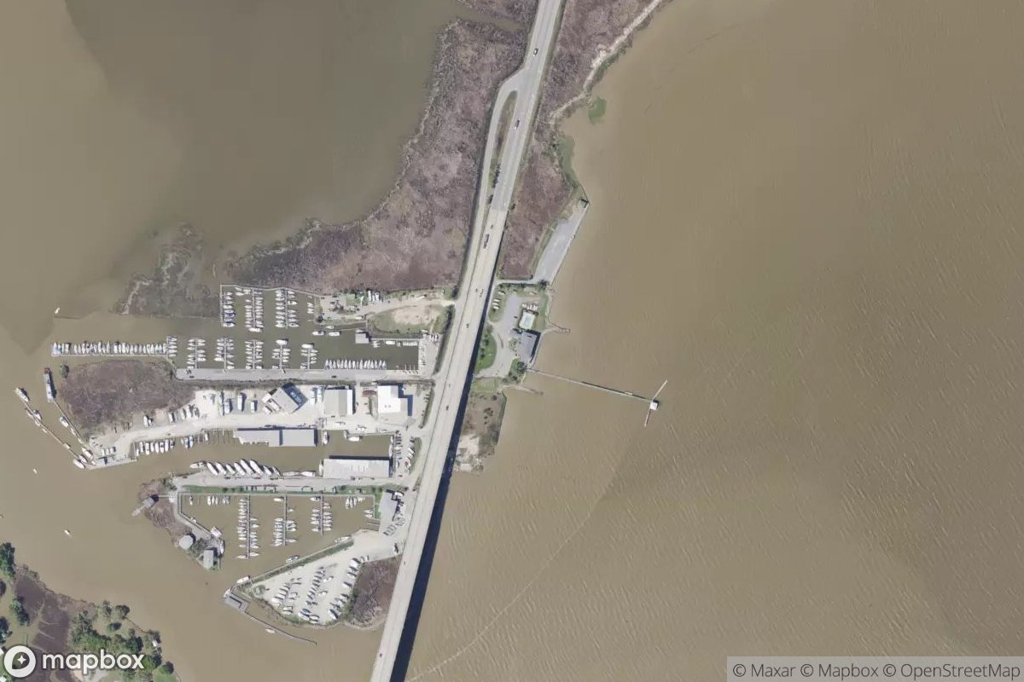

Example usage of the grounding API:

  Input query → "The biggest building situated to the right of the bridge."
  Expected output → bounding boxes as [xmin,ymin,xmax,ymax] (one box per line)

[518,331,537,363]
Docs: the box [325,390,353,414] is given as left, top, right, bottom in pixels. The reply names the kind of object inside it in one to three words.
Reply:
building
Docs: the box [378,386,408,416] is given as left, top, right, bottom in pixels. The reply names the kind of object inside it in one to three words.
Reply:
building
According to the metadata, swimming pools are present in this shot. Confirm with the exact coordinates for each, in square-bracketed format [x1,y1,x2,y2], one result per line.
[520,311,535,329]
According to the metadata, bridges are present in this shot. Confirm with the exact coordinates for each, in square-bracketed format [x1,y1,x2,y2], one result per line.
[370,209,509,682]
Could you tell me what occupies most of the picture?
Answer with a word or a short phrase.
water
